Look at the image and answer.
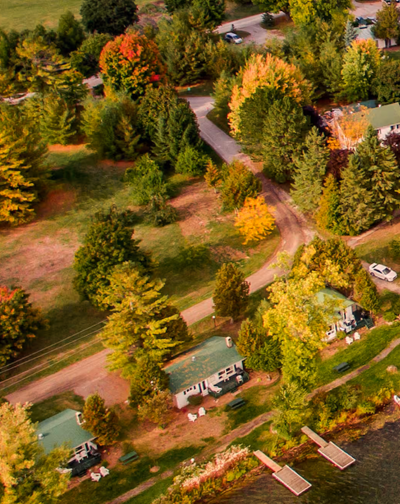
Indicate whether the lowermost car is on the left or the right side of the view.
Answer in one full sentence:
The lowermost car sits on the right side.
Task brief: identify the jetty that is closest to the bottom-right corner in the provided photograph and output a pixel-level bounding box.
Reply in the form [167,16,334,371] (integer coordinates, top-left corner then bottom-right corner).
[315,437,358,473]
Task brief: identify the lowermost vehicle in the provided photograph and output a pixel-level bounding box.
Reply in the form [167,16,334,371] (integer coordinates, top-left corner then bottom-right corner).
[364,263,398,284]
